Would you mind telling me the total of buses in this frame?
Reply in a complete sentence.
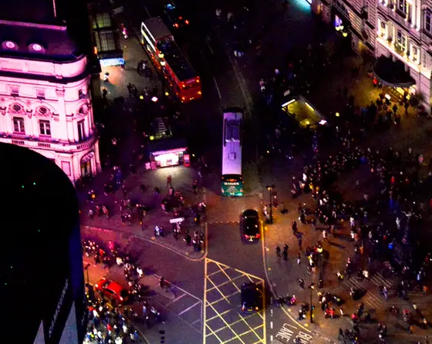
Looking from above, you can make out 2 buses.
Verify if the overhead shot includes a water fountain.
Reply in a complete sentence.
Yes, there's a water fountain down there.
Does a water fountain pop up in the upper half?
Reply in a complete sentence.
No, there is no water fountain in the upper half.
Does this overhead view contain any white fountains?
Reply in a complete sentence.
No, no white fountain can be seen from above.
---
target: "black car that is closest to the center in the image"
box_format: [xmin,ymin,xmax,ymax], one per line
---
[242,212,261,241]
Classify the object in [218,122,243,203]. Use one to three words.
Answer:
bus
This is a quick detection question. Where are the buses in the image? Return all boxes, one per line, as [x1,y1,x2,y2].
[139,34,202,112]
[218,122,243,203]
